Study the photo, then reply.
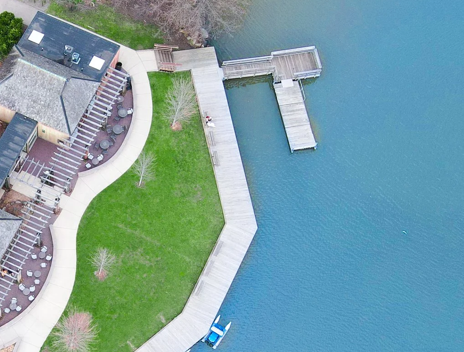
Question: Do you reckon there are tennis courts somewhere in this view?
No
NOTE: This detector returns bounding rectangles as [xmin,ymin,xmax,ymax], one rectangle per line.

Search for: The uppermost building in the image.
[0,12,119,149]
